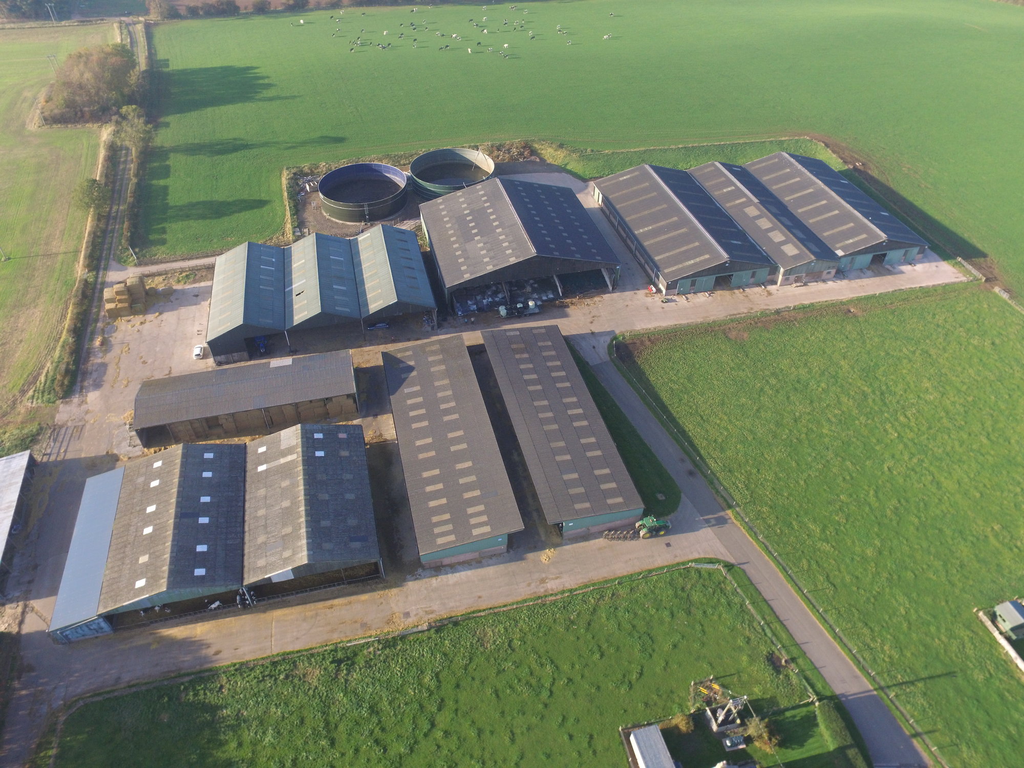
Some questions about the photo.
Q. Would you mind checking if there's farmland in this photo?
Yes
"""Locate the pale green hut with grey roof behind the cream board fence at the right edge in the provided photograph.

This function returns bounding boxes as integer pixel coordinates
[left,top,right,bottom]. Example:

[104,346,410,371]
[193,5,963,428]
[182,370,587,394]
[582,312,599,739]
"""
[988,601,1024,651]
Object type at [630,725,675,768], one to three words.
shed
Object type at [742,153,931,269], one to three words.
building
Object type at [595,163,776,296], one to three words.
building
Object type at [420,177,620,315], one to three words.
shed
